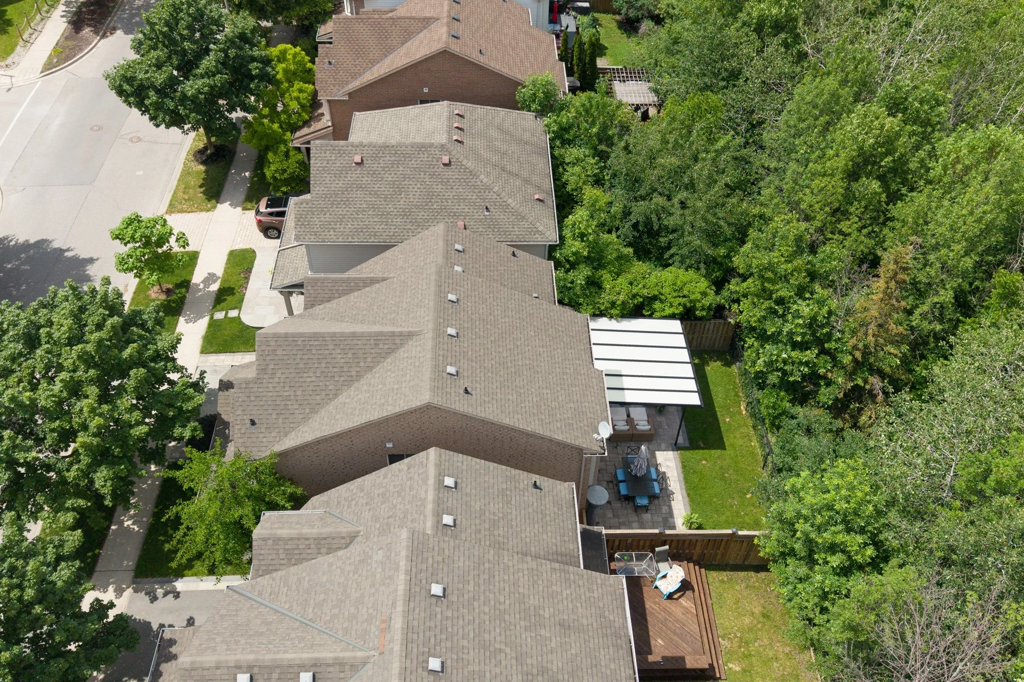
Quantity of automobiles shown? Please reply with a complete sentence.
The picture shows just 1 automobile.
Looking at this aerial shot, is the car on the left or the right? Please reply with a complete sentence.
The car sits on the left side.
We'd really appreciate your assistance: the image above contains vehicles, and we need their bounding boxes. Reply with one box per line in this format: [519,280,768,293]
[245,189,293,235]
